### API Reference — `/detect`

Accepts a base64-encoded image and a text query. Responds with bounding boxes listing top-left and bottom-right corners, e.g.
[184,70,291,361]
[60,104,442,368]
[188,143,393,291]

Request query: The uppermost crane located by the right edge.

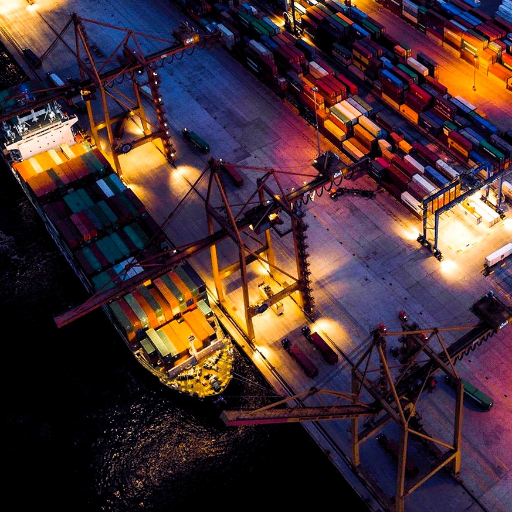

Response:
[412,157,511,260]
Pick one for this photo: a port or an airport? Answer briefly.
port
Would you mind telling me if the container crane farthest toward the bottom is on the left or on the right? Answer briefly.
right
